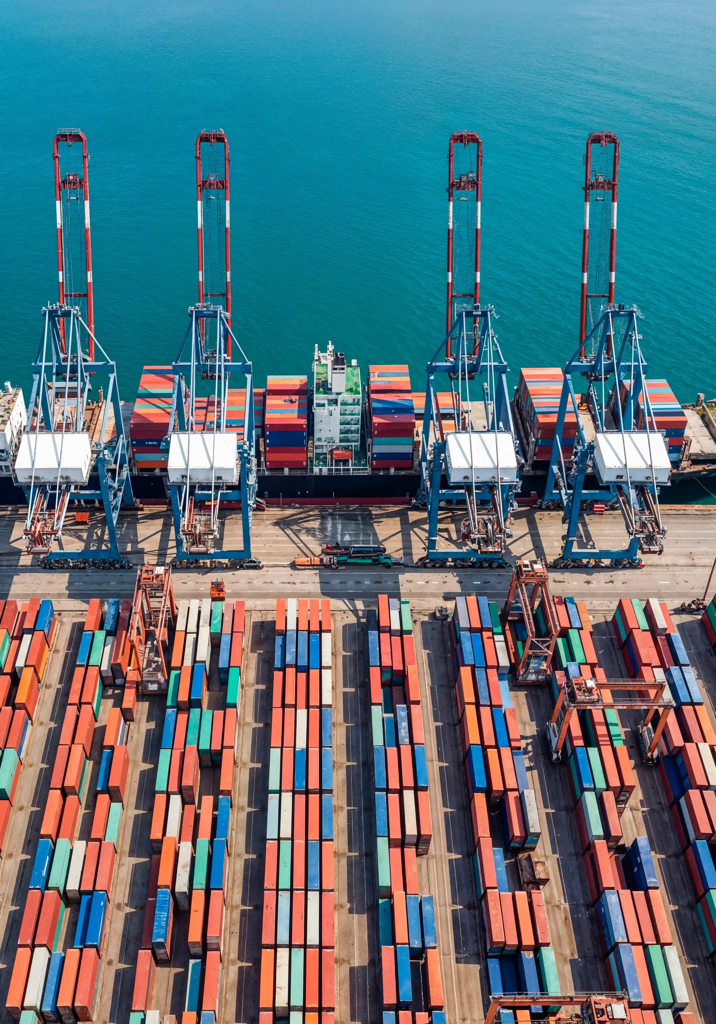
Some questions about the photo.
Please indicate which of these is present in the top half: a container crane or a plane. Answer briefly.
container crane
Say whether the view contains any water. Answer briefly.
Yes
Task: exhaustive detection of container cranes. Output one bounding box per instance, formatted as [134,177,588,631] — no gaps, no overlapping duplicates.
[486,987,635,1024]
[14,124,133,568]
[500,560,559,687]
[163,124,262,568]
[548,124,671,568]
[546,670,673,764]
[417,124,519,568]
[127,568,181,696]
